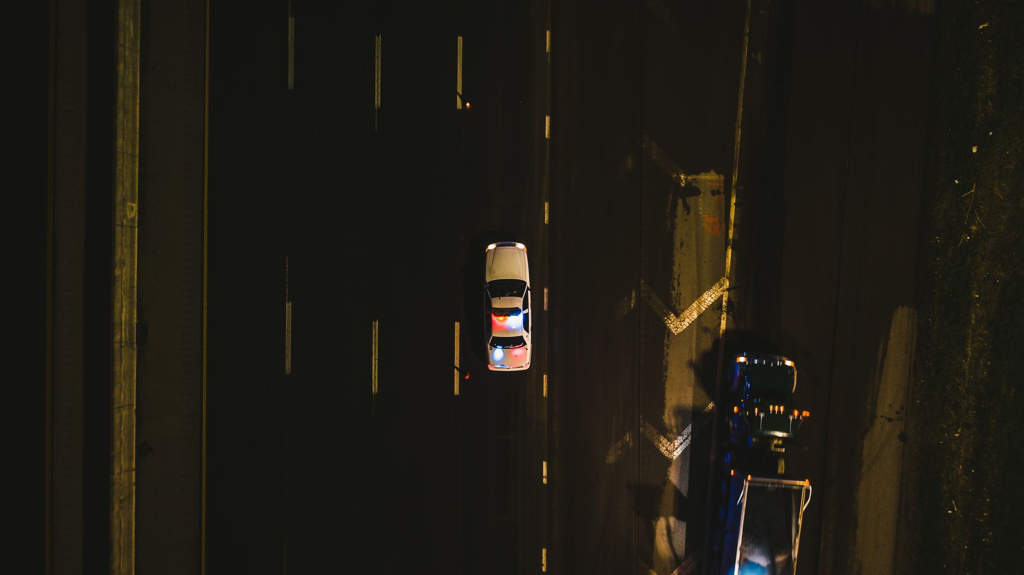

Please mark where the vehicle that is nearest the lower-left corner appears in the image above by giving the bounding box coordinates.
[481,242,534,372]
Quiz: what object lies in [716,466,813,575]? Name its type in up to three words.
trailer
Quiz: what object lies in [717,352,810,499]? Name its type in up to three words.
truck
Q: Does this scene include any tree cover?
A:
No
